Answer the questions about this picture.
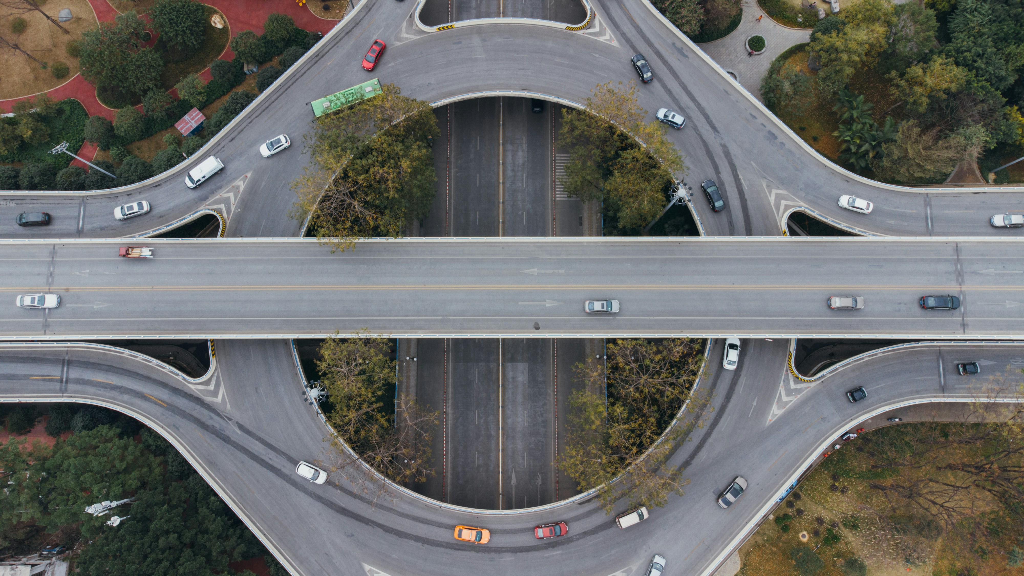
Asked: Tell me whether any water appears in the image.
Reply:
No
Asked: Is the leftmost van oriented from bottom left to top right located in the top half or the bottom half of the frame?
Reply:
top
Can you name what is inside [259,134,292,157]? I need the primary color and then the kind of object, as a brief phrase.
white car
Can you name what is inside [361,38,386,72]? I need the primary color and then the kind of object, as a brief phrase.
red car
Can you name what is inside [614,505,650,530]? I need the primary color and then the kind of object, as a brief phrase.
white car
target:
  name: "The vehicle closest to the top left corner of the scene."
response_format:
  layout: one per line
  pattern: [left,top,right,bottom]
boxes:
[16,210,53,226]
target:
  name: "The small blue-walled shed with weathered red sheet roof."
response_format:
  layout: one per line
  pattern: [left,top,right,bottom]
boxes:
[175,107,210,137]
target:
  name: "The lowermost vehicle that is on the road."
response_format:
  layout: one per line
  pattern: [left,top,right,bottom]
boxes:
[643,548,666,576]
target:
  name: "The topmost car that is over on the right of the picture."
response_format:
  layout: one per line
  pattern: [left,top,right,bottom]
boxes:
[630,52,655,86]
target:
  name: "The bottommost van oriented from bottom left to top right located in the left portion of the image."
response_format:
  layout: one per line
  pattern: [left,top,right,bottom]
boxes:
[185,153,224,189]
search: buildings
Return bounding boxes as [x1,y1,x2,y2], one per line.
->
[0,543,82,576]
[175,107,210,137]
